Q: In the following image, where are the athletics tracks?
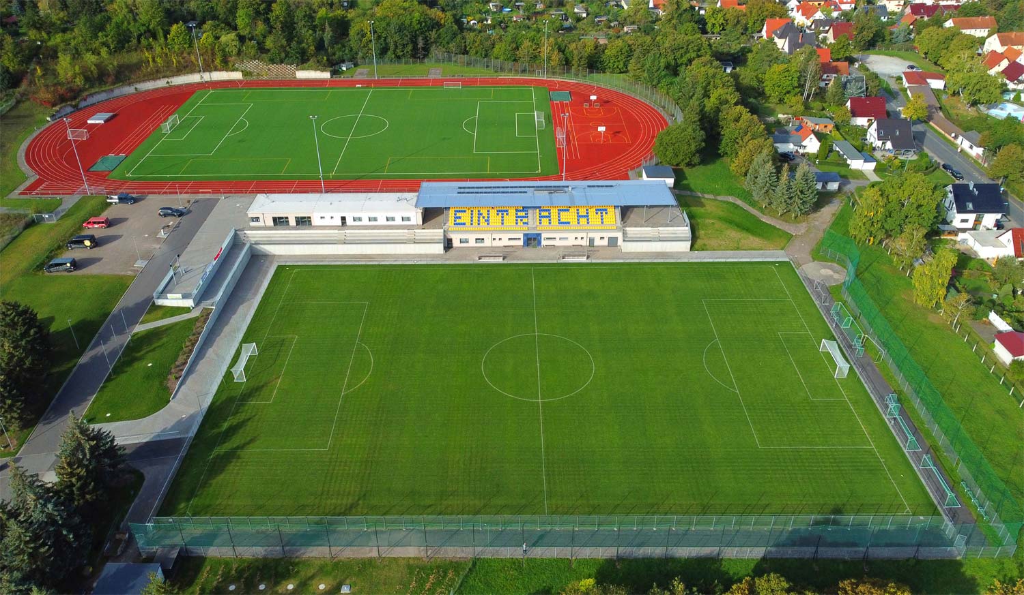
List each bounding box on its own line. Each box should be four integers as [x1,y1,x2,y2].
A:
[29,78,668,195]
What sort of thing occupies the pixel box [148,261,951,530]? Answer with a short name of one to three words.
sports field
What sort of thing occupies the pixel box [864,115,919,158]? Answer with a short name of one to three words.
house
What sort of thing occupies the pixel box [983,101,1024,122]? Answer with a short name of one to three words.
swimming pool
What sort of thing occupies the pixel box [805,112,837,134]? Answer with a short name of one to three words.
shed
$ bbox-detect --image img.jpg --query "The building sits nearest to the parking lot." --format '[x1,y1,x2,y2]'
[242,188,427,226]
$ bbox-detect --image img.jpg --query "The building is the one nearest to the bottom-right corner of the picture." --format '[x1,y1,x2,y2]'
[976,324,1024,370]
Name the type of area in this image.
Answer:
sports ground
